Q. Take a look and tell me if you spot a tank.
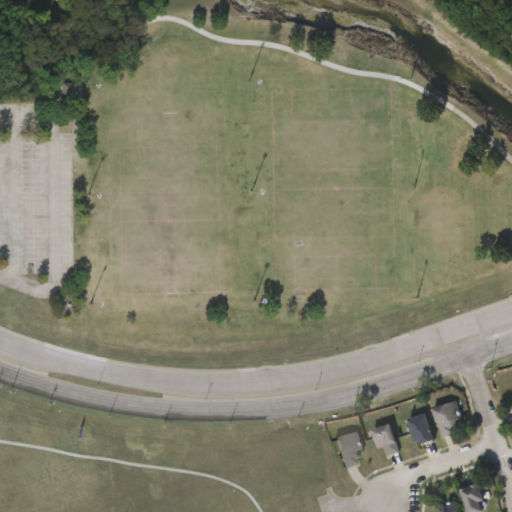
No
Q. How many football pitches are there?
2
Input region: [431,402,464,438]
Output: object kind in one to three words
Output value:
house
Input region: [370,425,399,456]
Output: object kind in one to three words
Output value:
house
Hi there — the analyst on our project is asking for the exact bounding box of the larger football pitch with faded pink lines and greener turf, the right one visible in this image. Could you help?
[272,88,396,290]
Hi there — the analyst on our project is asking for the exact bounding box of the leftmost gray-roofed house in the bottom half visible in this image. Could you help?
[338,432,365,468]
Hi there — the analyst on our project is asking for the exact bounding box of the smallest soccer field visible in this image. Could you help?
[120,146,220,294]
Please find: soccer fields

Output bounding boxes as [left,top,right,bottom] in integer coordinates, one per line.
[120,146,220,294]
[272,88,396,290]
